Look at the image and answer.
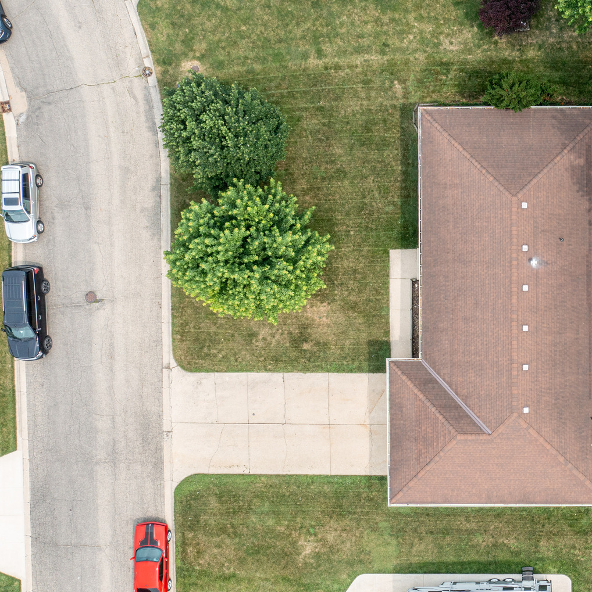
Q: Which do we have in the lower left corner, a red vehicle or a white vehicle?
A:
red vehicle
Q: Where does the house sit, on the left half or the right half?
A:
right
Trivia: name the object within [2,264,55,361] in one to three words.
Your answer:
car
